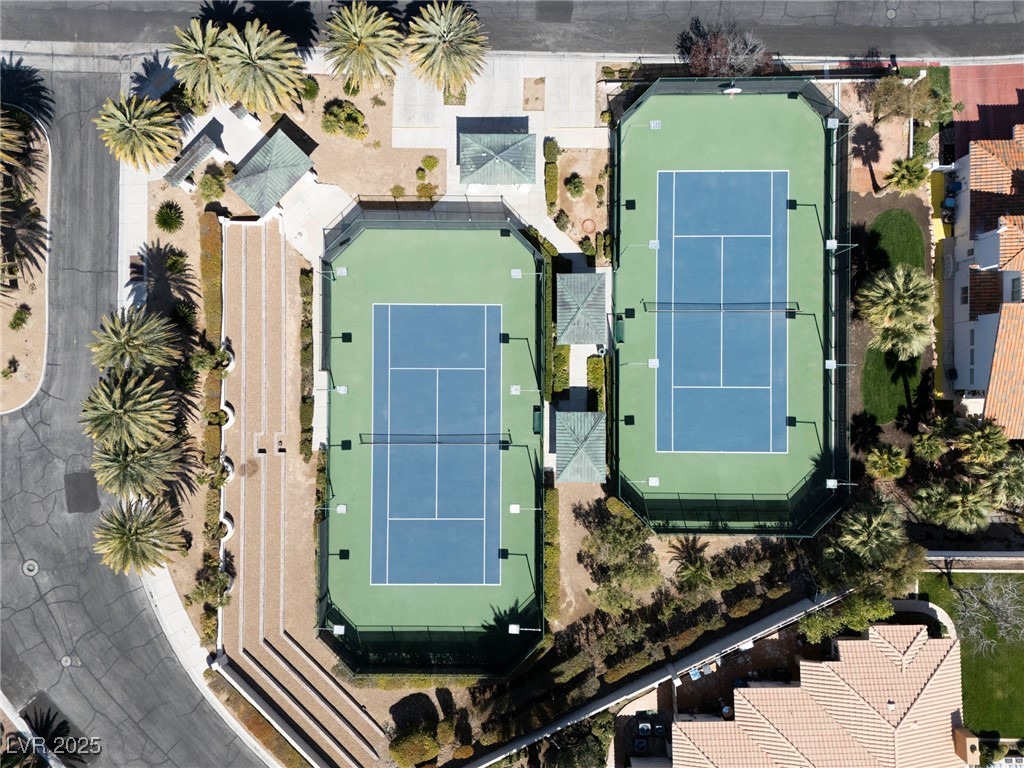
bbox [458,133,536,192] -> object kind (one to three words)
building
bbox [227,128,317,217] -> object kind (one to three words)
building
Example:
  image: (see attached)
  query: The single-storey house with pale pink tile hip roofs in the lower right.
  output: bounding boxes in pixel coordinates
[672,624,980,768]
